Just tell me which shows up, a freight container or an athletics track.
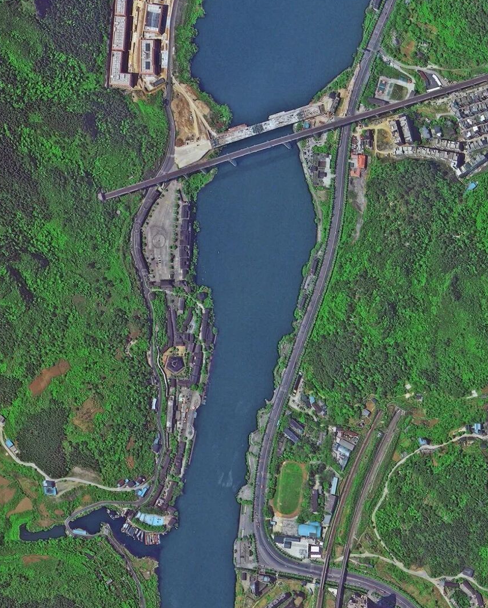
athletics track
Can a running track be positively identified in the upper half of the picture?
No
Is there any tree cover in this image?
Yes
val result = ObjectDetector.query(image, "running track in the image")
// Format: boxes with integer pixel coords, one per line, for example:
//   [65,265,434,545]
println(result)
[275,461,309,517]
